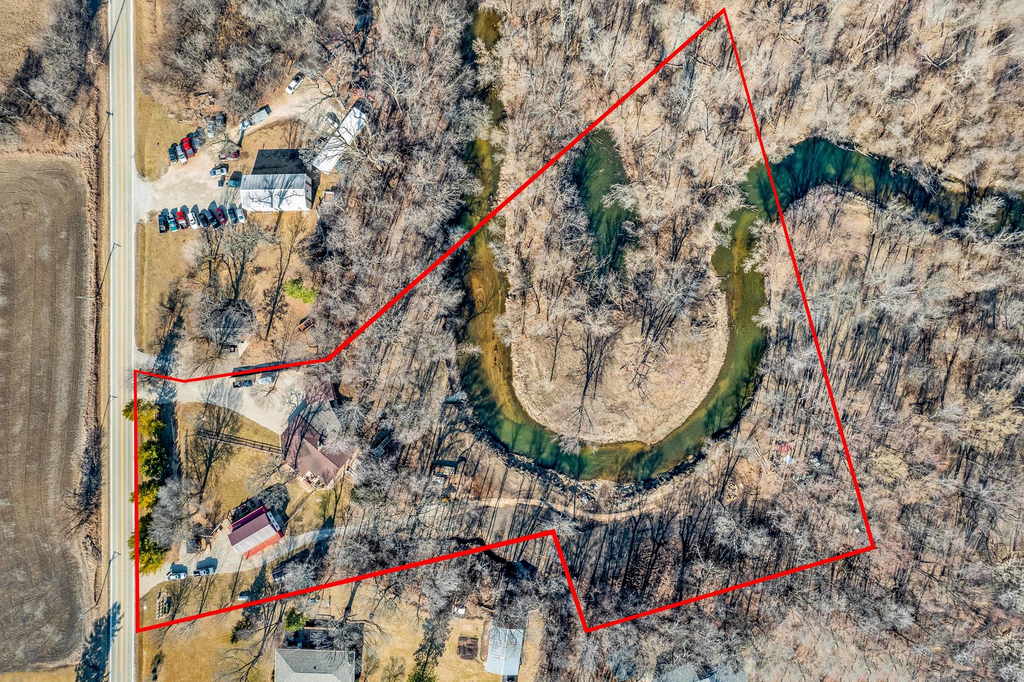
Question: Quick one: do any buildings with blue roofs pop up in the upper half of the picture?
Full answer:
No, I see no building with a blue roof in the upper half of the picture.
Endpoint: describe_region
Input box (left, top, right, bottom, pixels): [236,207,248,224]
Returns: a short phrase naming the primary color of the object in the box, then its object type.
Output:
white vehicle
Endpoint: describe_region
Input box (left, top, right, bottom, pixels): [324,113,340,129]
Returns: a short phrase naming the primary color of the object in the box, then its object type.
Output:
white car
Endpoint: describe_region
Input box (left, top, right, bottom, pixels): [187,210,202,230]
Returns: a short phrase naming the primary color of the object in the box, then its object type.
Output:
white car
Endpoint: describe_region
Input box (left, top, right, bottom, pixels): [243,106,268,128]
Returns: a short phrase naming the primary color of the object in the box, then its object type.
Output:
white truck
